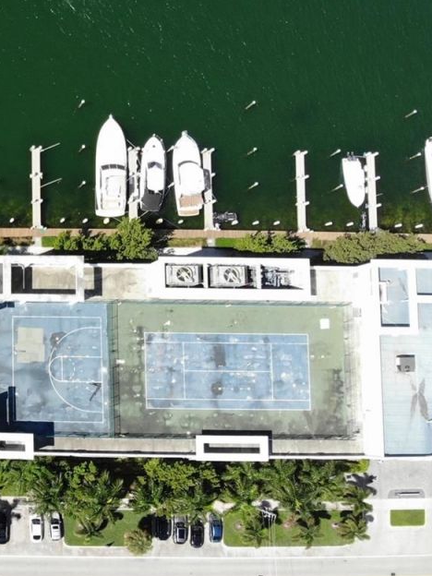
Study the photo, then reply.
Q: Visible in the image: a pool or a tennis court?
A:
tennis court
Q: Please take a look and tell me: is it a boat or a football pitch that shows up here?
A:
boat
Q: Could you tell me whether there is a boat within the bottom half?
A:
No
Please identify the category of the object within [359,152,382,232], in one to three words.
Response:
pier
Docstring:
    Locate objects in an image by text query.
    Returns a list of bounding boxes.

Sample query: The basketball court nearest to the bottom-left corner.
[0,302,110,435]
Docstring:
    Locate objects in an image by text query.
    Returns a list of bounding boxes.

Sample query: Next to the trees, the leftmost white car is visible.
[29,511,43,545]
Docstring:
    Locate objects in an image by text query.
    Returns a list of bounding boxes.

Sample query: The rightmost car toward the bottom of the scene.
[206,510,223,544]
